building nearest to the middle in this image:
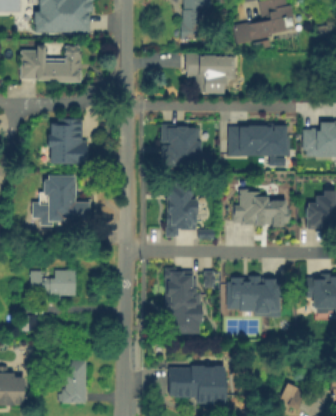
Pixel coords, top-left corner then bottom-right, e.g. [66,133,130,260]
[166,187,198,238]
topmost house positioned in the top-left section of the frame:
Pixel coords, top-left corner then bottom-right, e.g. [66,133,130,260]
[34,0,93,33]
